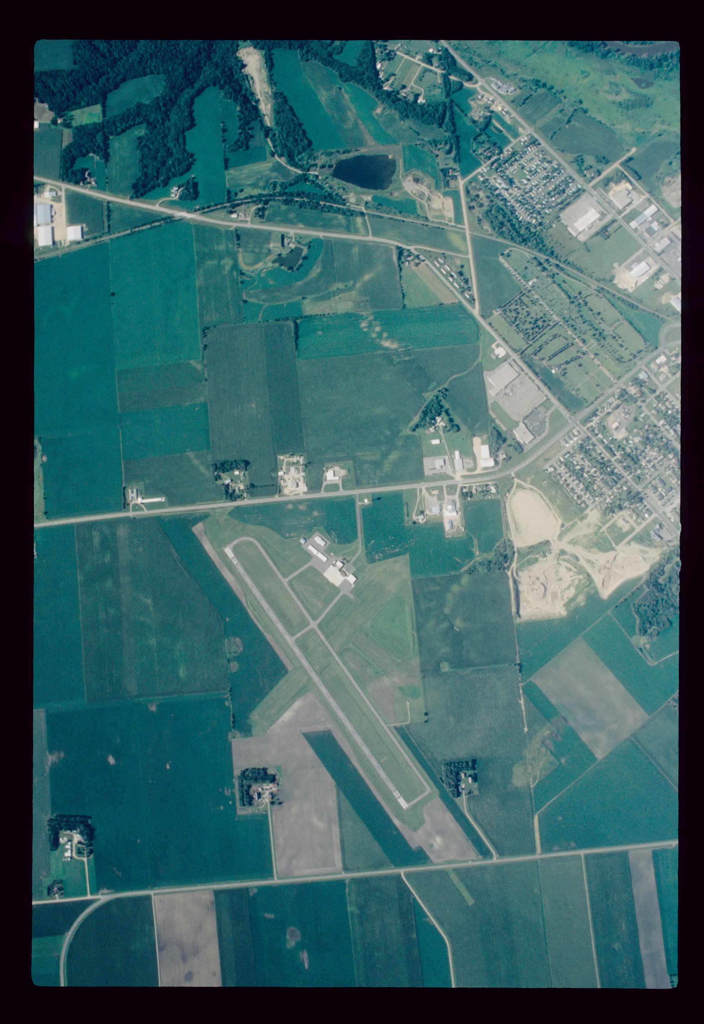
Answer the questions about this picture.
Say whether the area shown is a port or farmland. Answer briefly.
farmland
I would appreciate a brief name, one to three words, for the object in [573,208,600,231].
building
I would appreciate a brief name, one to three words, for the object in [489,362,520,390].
building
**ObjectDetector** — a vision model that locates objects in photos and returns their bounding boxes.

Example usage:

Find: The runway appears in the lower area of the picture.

[223,546,408,810]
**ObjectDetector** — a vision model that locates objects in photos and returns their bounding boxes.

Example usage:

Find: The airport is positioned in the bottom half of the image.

[192,508,439,832]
